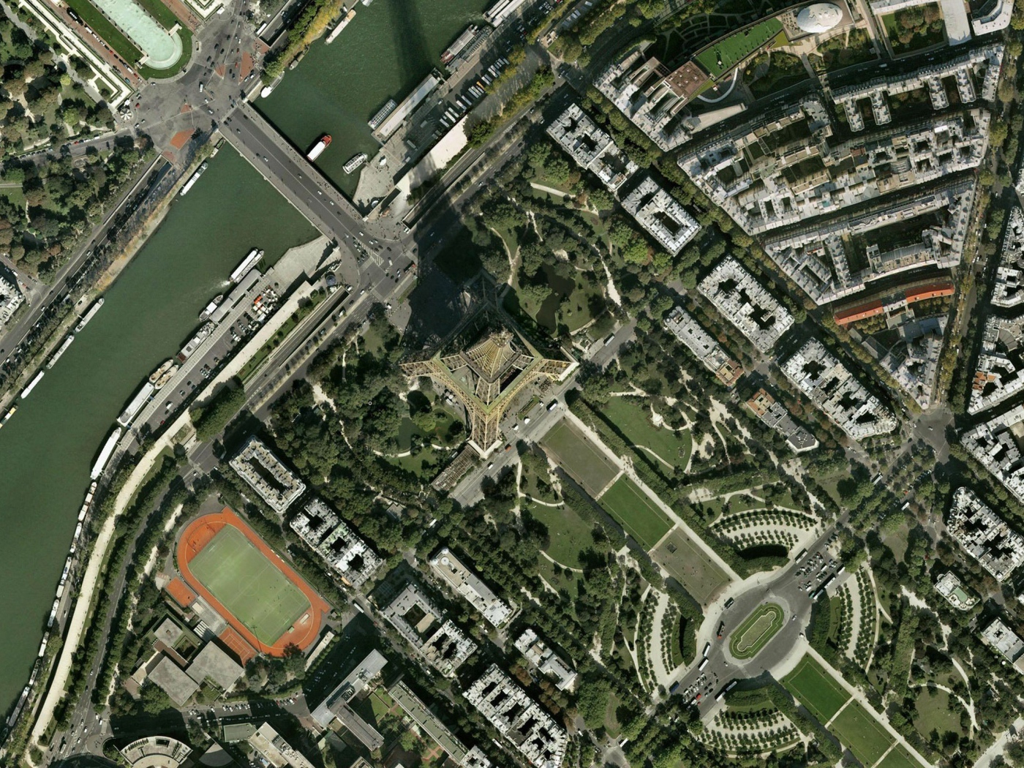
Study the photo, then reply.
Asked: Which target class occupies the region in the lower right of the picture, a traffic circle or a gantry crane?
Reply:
traffic circle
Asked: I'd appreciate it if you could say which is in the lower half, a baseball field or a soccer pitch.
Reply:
soccer pitch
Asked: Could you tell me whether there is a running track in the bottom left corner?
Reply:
Yes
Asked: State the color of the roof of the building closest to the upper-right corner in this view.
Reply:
white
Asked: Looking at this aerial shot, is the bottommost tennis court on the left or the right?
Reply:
left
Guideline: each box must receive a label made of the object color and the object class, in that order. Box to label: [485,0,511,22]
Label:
white boat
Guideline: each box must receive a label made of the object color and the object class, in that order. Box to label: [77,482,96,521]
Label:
white boat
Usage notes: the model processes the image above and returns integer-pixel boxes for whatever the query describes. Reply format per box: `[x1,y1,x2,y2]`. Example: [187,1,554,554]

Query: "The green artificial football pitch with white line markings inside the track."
[189,525,311,646]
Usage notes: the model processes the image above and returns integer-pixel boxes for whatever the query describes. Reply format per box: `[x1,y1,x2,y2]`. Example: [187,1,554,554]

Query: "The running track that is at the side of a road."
[178,506,329,658]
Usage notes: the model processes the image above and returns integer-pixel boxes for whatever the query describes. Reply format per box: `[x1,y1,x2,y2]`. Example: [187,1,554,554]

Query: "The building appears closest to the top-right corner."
[970,0,1013,38]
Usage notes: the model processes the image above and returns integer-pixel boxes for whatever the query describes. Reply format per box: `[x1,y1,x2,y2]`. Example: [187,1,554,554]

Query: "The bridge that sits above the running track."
[212,98,369,240]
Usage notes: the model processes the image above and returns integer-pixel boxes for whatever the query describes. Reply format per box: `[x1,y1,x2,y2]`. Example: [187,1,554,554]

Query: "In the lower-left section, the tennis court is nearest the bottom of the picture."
[219,626,258,666]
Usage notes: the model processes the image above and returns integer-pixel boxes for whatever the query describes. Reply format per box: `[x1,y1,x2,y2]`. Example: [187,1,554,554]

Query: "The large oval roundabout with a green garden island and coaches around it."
[651,501,867,737]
